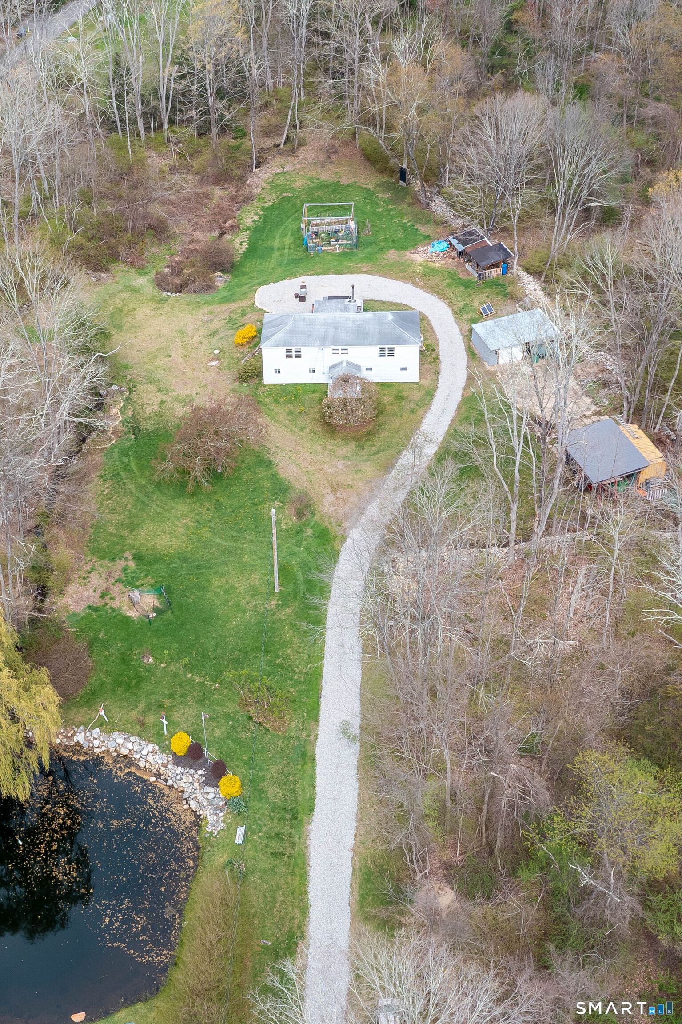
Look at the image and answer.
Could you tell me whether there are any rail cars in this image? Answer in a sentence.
No, I can't see a single rail car in this photo.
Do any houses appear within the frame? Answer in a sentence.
Yes, the picture does show a house.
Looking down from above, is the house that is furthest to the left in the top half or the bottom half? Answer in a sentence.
Seen from above, the house that is furthest to the left lies in the top half of the view.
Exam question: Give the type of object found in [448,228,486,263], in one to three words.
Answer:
shed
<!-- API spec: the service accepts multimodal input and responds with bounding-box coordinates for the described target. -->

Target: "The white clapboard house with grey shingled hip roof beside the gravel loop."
[259,284,424,398]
